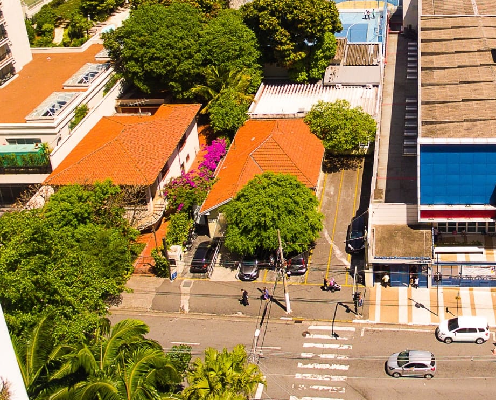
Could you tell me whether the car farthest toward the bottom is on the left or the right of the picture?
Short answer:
right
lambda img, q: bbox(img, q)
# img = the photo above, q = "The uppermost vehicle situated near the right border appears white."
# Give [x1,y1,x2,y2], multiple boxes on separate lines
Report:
[437,313,490,341]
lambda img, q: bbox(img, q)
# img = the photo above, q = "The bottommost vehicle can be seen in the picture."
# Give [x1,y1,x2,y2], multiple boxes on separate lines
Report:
[386,348,435,376]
